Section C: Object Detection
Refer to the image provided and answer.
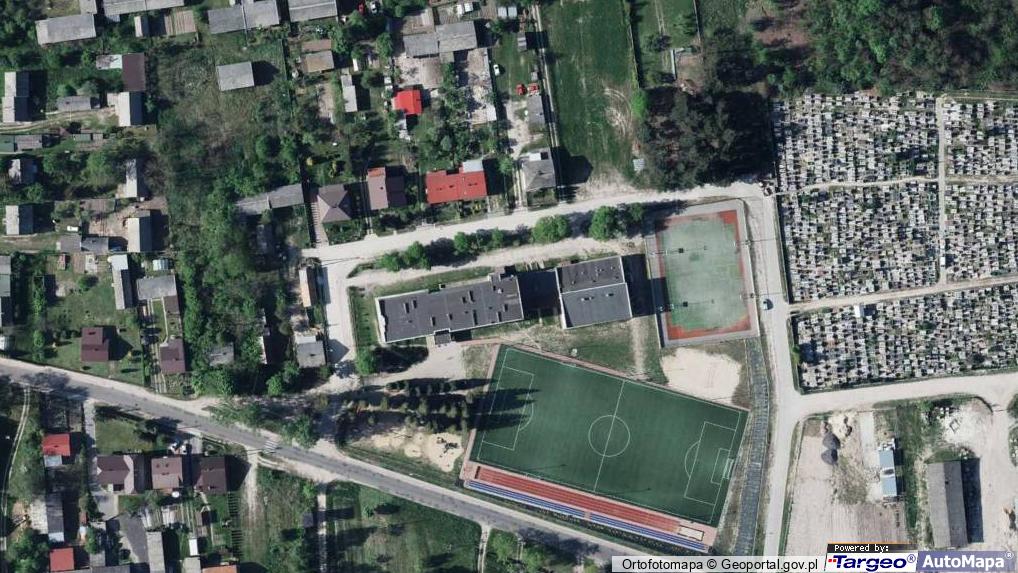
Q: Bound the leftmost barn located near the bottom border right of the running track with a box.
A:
[926,462,968,548]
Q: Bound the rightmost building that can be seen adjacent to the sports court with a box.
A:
[554,256,632,328]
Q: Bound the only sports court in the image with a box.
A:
[646,198,761,349]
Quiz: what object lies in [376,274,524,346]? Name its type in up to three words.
building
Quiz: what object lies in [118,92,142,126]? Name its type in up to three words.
house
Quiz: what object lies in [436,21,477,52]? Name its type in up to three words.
barn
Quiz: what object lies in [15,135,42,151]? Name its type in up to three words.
shed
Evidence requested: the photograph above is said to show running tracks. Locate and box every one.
[461,460,718,559]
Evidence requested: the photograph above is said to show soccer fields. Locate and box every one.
[465,338,750,529]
